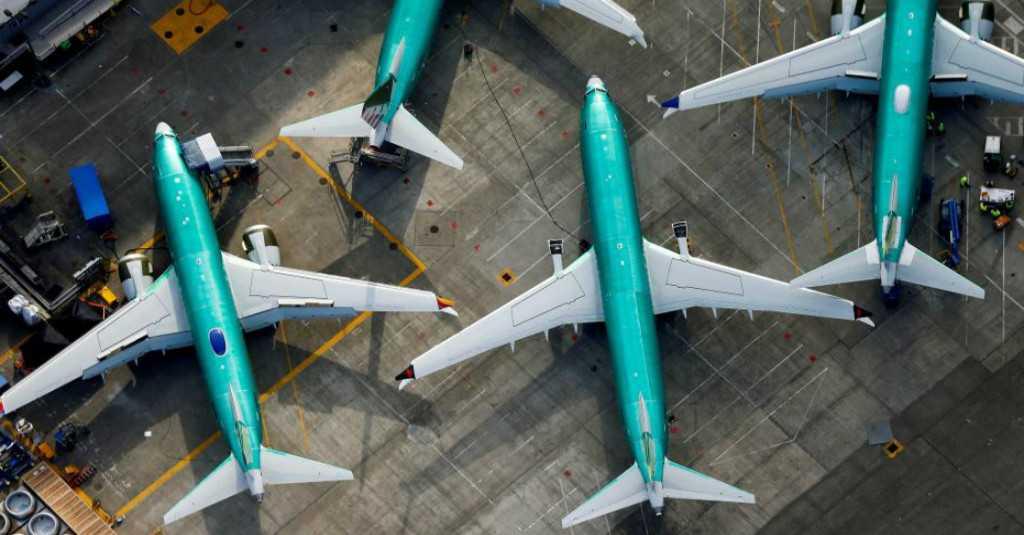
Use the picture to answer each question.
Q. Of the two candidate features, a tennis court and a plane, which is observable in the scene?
plane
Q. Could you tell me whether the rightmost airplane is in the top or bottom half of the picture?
top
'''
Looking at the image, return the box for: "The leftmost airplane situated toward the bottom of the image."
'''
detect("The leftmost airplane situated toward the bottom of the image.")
[0,121,459,528]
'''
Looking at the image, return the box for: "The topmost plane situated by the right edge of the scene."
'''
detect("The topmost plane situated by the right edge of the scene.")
[664,0,1024,301]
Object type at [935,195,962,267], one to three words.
work vehicle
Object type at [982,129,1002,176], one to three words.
vehicle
